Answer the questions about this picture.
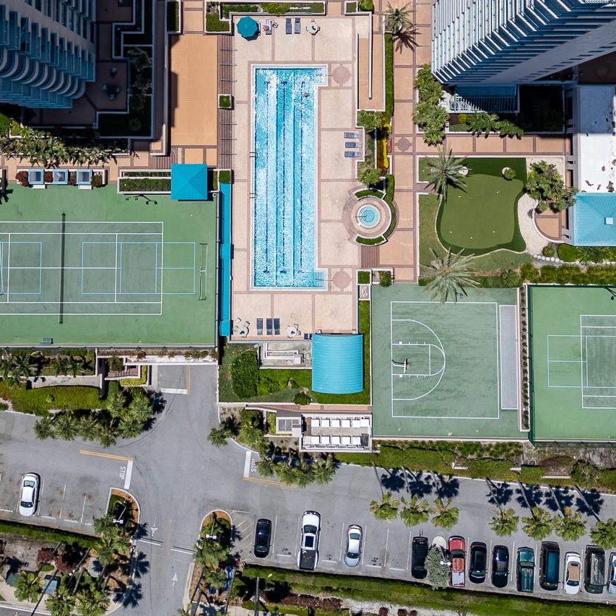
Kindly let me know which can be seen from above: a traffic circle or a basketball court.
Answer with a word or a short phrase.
basketball court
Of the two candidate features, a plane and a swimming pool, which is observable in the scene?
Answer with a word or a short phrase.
swimming pool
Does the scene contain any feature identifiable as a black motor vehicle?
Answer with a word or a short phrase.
Yes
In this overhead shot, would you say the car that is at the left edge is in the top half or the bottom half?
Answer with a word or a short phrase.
bottom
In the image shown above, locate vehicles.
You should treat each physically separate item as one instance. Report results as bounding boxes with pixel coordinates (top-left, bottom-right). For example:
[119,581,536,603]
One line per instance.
[343,522,362,565]
[300,513,319,565]
[468,540,487,582]
[410,535,429,577]
[514,542,535,593]
[447,533,466,584]
[562,552,581,591]
[253,516,272,557]
[583,544,604,589]
[491,544,510,586]
[18,473,41,514]
[539,542,558,586]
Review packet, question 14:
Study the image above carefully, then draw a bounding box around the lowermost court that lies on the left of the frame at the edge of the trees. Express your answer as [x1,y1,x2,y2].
[0,186,214,345]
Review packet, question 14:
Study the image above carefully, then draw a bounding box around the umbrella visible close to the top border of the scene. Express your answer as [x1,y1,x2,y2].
[236,16,258,39]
